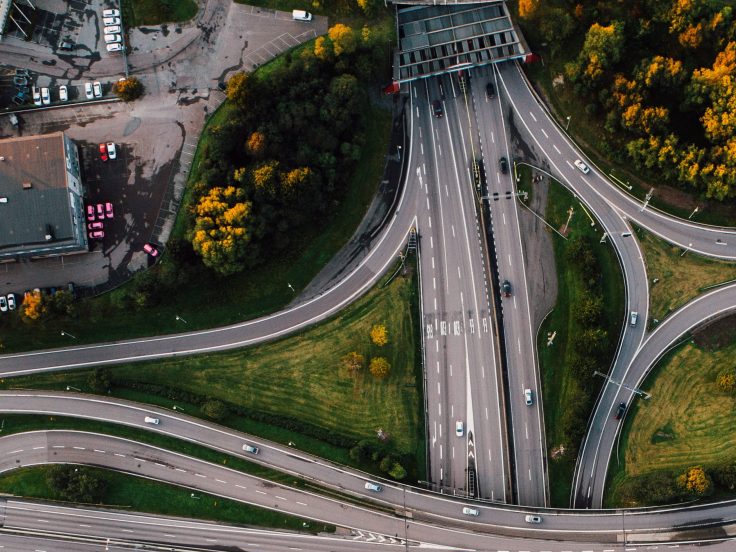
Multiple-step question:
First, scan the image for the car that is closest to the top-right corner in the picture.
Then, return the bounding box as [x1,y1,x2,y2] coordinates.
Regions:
[574,159,588,174]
